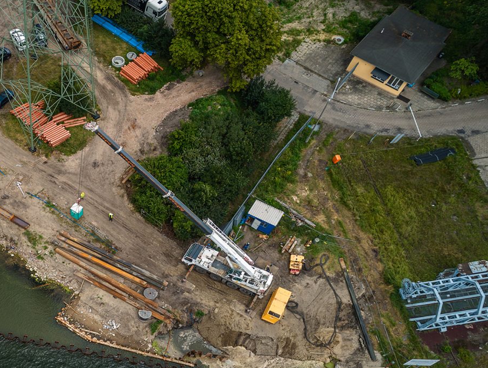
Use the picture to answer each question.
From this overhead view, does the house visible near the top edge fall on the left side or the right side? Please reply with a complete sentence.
It is on the right.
